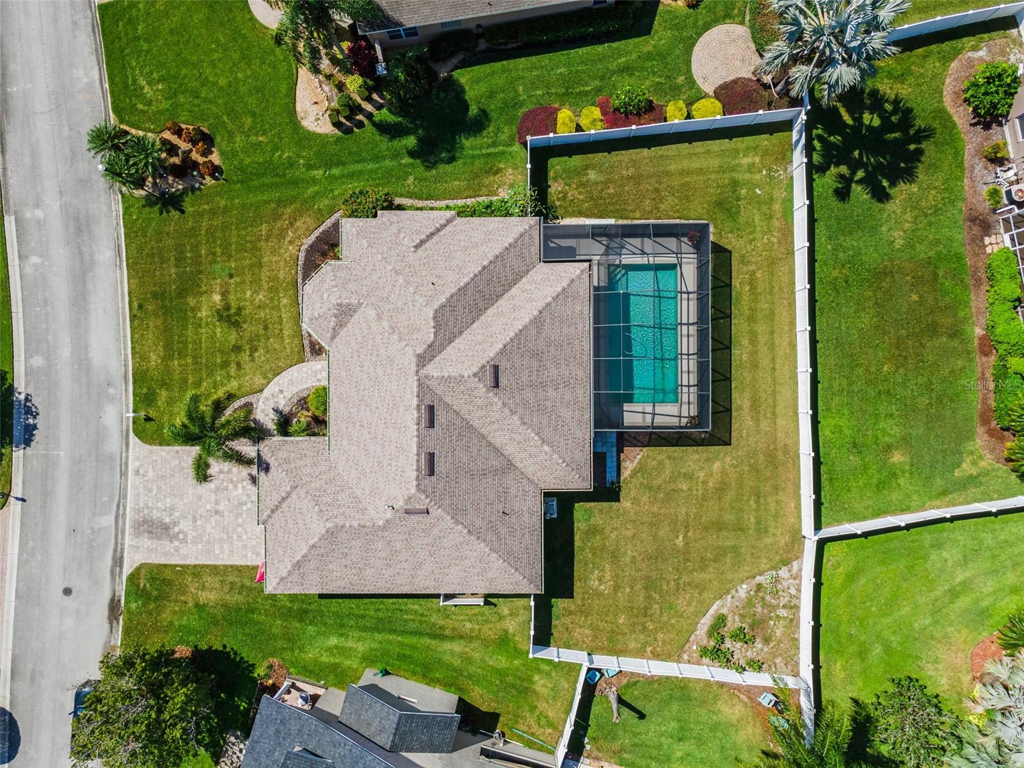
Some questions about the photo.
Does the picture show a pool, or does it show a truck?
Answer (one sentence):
Of the two, only a pool appears.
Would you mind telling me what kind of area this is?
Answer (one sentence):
This looks like a residential area.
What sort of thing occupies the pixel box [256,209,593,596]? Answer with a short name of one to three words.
house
